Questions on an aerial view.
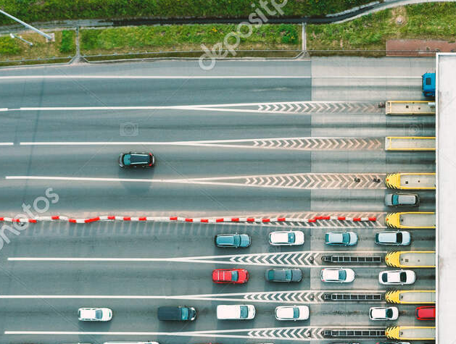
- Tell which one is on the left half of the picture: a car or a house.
car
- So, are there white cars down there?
Yes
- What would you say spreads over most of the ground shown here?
paved ground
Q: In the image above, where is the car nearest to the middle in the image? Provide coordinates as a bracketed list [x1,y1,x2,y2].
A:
[215,232,250,249]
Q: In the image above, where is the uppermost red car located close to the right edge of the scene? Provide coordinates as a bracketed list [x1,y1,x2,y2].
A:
[416,306,437,320]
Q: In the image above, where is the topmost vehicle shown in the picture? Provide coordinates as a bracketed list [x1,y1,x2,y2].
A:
[421,71,437,96]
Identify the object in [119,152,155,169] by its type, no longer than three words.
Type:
car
